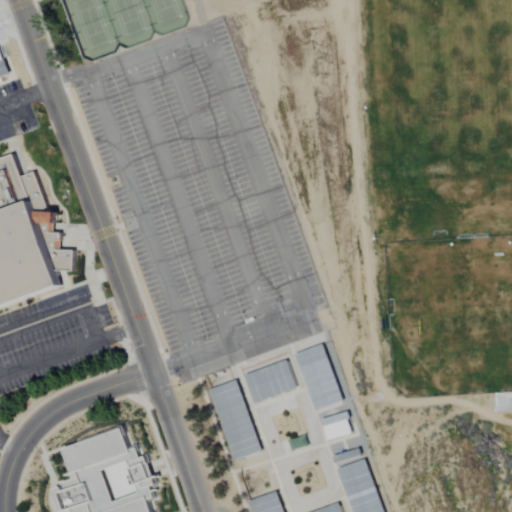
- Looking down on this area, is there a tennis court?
Yes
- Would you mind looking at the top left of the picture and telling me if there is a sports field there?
No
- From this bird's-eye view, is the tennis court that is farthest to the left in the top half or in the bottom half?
top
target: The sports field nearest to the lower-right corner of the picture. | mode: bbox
[377,238,512,396]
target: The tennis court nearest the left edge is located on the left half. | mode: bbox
[64,0,120,59]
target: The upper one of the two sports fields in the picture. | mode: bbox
[365,0,512,240]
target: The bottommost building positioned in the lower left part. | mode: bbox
[53,428,161,512]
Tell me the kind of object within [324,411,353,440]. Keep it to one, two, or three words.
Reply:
shed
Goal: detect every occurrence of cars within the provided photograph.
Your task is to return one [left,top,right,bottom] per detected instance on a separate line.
[21,122,27,131]
[2,88,8,97]
[12,82,18,92]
